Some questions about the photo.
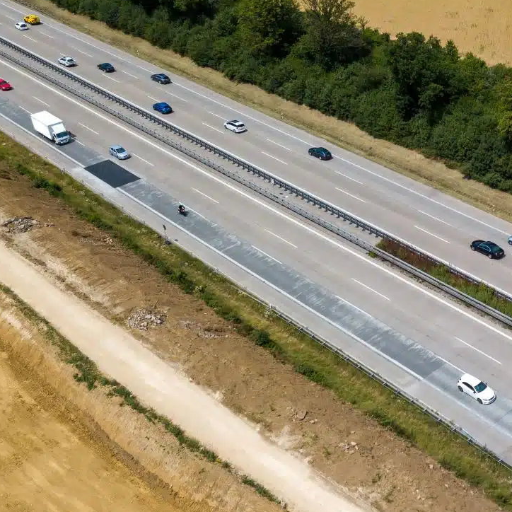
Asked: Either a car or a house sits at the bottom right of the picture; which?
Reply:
car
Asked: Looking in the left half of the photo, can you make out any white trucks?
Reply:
Yes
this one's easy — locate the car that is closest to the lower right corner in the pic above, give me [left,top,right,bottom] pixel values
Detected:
[456,376,495,406]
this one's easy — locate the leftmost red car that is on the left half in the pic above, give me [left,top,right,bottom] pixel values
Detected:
[0,79,12,92]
